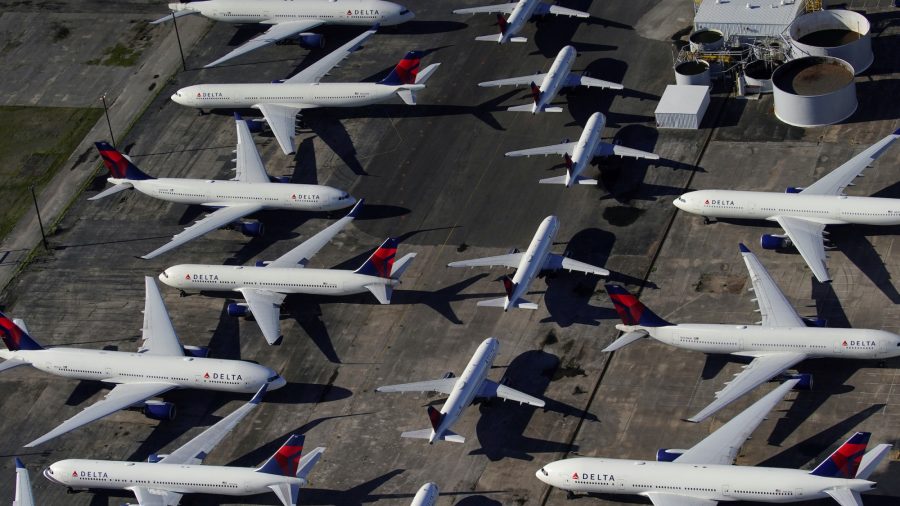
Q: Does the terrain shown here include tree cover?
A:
No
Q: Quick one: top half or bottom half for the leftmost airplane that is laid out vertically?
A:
bottom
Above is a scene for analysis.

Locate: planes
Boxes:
[89,111,356,258]
[150,0,416,67]
[475,45,624,115]
[405,483,434,506]
[159,199,417,344]
[451,0,592,45]
[446,216,610,312]
[43,382,326,506]
[535,376,891,506]
[675,129,900,281]
[12,456,34,506]
[375,337,547,445]
[503,112,660,187]
[603,242,900,422]
[0,277,287,449]
[171,20,439,154]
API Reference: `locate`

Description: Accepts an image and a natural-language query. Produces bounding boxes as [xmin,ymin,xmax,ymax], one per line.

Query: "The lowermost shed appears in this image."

[654,84,710,129]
